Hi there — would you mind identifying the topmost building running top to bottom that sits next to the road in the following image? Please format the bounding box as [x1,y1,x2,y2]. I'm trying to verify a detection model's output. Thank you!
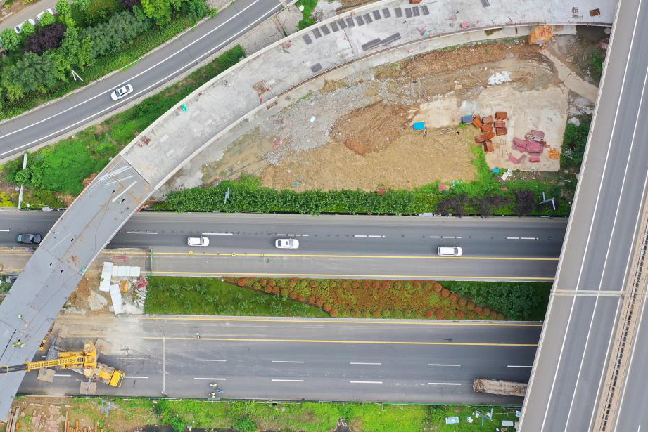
[99,262,114,291]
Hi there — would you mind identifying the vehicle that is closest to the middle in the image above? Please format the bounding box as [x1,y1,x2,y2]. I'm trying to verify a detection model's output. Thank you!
[275,238,299,250]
